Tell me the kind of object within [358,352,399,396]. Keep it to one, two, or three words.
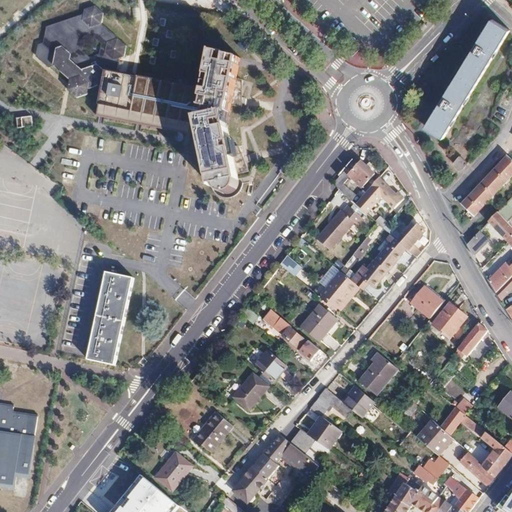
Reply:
house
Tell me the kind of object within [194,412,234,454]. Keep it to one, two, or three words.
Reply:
house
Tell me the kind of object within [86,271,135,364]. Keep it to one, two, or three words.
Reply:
building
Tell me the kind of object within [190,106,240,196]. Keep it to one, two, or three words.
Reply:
building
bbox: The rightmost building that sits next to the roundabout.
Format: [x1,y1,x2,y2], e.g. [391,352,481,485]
[423,20,509,142]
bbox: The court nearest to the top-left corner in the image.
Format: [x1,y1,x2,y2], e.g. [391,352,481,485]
[0,160,39,250]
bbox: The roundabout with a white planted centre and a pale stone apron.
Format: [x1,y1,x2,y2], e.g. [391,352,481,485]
[327,66,404,143]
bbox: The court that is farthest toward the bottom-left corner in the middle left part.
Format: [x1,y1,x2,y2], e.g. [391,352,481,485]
[0,262,46,340]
